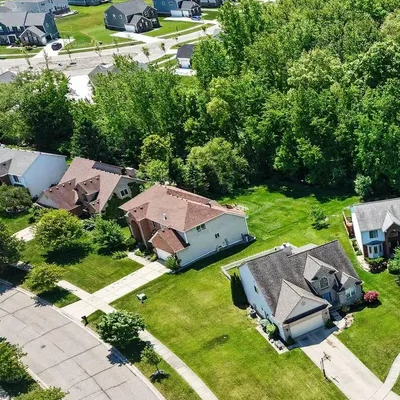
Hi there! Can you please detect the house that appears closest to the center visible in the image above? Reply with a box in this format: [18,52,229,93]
[123,183,245,268]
